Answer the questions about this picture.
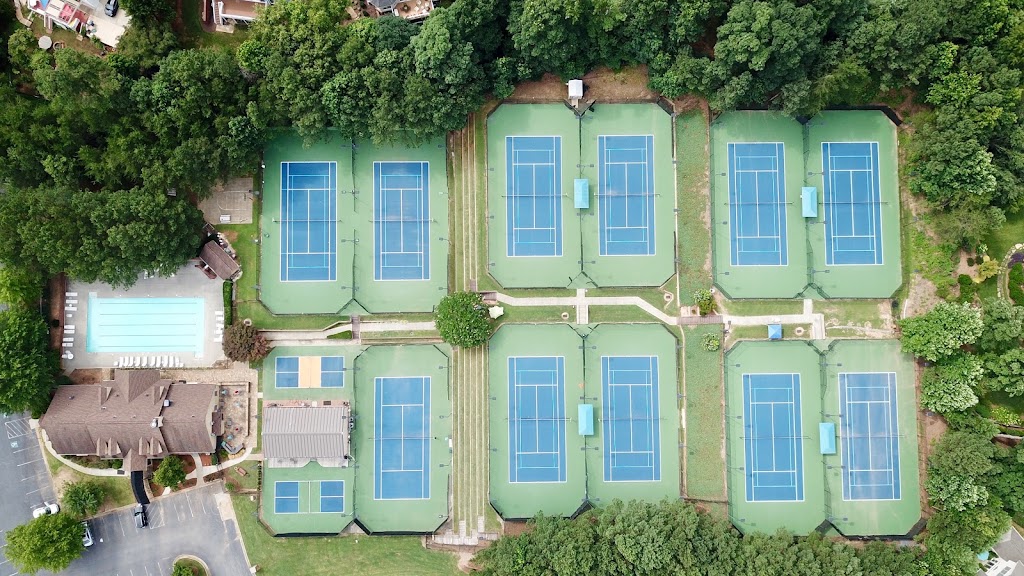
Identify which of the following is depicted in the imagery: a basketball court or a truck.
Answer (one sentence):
Visible in the photo is a basketball court.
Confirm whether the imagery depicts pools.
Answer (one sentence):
Yes, a pool appears in the view.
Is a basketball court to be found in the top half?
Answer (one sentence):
Yes, a basketball court is visible in the top half.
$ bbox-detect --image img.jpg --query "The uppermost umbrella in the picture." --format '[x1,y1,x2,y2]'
[39,35,53,50]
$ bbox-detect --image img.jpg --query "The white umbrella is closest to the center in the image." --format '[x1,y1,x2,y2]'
[490,306,503,319]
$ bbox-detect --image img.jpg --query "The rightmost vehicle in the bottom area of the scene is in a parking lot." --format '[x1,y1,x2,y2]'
[132,503,150,529]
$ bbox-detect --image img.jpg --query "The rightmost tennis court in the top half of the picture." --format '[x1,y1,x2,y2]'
[805,109,903,297]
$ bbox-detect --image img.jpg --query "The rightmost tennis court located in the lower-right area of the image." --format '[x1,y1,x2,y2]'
[822,340,921,533]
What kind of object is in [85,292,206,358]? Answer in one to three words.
swimming pool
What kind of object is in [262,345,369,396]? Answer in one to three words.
sports court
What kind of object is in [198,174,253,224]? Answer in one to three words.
basketball court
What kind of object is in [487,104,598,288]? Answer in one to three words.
tennis court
